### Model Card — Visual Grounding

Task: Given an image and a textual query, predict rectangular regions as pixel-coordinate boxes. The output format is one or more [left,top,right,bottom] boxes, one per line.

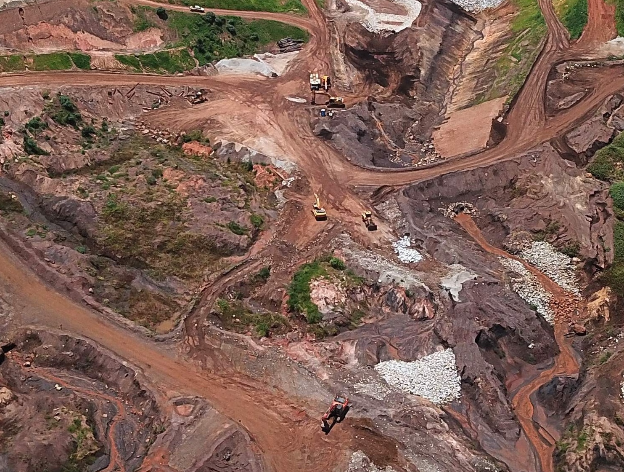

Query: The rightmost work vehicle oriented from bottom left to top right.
[317,391,354,434]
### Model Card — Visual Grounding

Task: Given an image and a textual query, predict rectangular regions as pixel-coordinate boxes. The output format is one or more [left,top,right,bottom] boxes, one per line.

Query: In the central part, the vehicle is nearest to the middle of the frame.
[313,186,326,221]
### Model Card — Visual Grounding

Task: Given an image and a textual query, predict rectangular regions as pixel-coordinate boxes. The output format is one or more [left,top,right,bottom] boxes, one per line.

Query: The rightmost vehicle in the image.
[361,207,376,231]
